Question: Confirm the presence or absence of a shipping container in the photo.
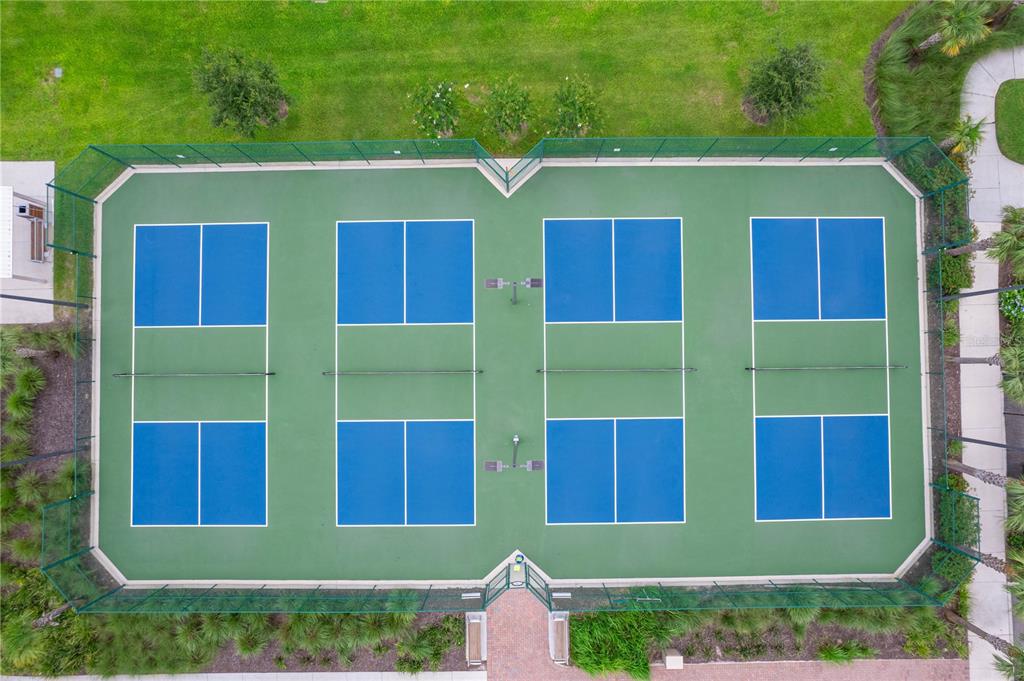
No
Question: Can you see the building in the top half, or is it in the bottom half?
top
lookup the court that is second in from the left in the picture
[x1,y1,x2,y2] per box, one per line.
[336,220,476,527]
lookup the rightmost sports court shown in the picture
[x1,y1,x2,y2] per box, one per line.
[750,217,892,521]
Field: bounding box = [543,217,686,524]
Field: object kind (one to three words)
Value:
sports court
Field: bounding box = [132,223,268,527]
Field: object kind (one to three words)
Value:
sports court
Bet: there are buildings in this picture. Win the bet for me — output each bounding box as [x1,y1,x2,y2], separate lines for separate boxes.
[0,187,50,284]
